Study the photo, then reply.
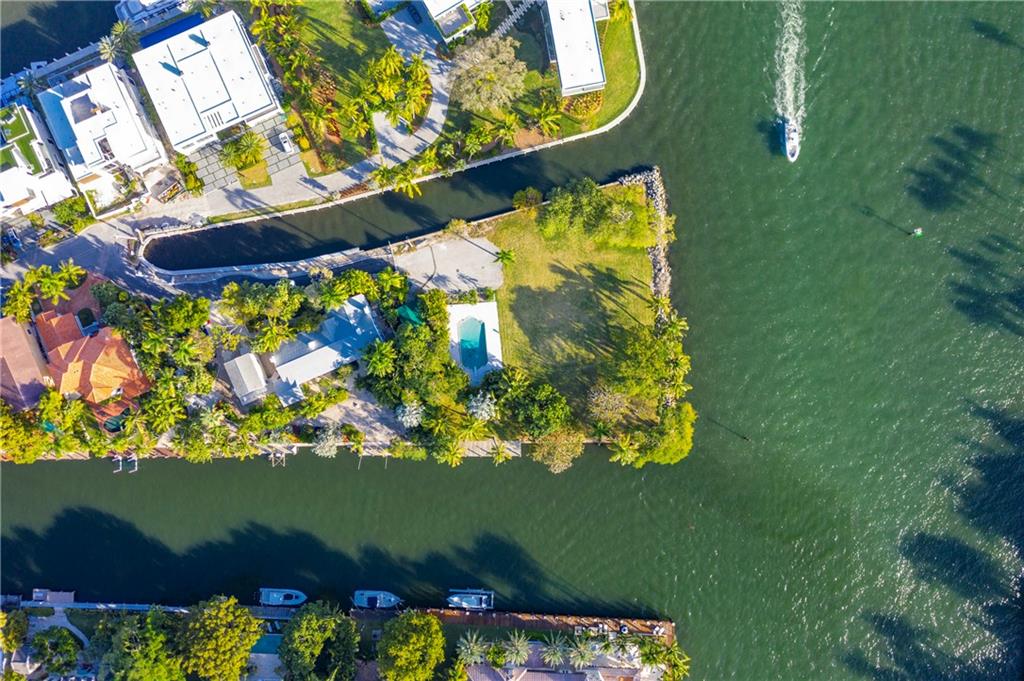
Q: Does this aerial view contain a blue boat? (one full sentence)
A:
Yes, I can see a blue boat in this picture.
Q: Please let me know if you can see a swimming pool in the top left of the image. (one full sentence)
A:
Yes, you'll find a swimming pool in the top left of the image.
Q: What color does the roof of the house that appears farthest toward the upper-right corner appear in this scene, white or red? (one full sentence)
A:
The roof of the house that appears farthest toward the upper-right corner is white.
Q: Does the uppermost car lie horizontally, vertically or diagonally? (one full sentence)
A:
What the image shows is the uppermost car lying diagonally.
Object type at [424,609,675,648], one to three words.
pier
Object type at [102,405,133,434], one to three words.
swimming pool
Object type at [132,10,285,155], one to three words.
house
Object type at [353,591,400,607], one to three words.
boat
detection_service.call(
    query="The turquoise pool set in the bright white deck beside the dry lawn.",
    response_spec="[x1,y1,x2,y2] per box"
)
[447,302,503,387]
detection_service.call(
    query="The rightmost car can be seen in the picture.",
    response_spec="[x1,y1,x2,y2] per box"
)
[405,2,425,26]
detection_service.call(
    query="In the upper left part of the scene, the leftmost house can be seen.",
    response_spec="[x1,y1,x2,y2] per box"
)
[0,102,84,230]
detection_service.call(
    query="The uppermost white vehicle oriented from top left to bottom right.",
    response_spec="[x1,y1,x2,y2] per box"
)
[277,131,296,154]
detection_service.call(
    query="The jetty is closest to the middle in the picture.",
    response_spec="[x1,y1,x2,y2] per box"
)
[460,444,521,458]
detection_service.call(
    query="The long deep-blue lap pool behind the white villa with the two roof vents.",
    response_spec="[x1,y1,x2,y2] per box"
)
[137,10,208,49]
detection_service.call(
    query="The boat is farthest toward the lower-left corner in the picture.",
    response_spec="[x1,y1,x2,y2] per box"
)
[258,588,306,605]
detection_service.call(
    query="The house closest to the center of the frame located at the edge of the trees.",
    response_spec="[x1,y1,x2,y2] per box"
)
[266,294,384,406]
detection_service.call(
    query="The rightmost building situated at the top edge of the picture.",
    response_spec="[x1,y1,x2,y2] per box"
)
[544,0,609,102]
